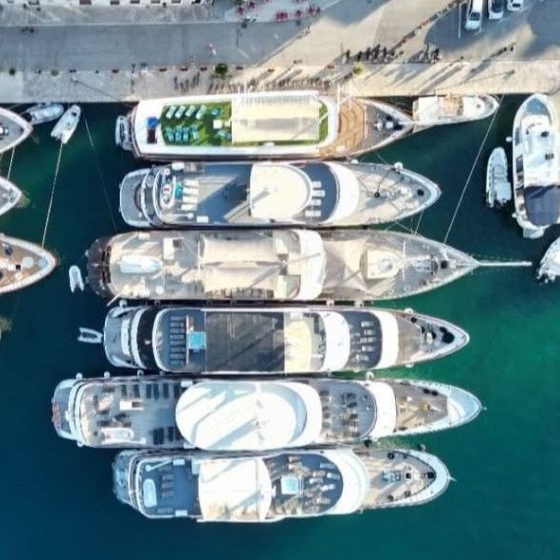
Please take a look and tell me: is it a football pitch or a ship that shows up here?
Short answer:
ship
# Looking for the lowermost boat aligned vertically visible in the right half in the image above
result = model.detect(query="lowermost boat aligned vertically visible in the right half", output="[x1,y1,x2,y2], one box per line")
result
[536,239,560,286]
